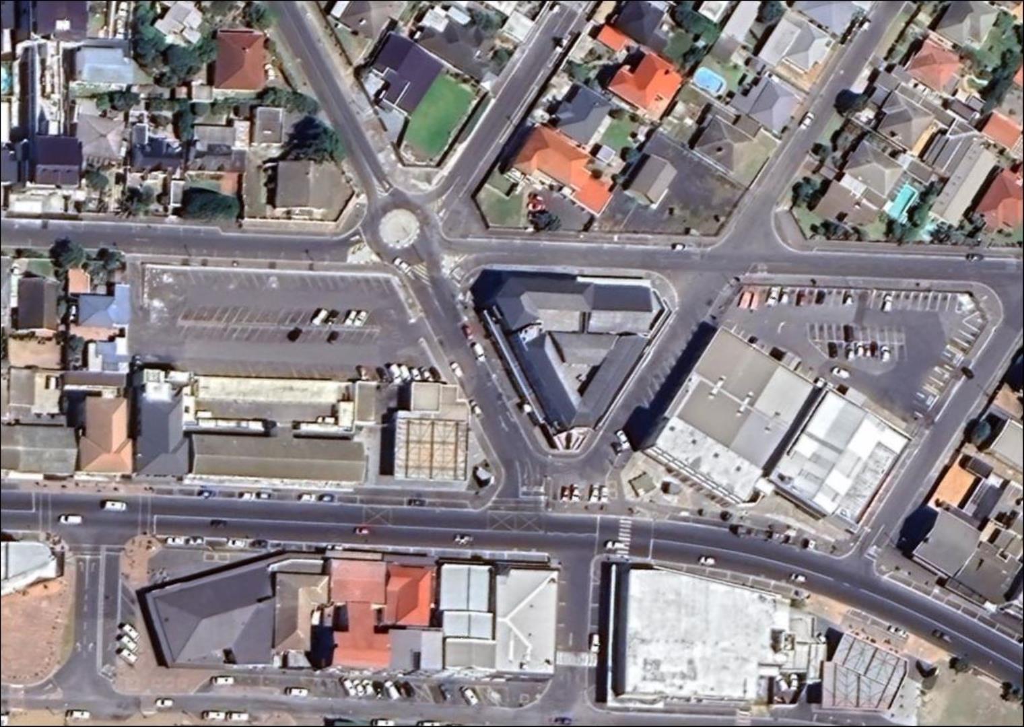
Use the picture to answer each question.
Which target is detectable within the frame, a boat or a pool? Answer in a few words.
pool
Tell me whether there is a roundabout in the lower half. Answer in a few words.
No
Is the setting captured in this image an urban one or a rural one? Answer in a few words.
urban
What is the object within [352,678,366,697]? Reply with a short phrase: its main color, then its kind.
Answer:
white car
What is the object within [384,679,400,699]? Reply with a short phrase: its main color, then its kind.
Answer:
white vehicle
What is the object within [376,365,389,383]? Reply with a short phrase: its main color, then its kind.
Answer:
black vehicle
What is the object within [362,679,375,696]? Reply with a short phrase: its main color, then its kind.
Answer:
white vehicle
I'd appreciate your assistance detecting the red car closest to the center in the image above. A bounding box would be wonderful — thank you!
[463,322,475,338]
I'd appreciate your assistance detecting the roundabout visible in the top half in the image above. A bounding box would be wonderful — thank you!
[378,207,420,249]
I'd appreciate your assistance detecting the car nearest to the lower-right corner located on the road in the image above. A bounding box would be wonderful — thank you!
[933,628,952,642]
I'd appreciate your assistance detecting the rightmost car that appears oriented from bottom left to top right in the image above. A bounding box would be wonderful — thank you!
[859,17,873,34]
